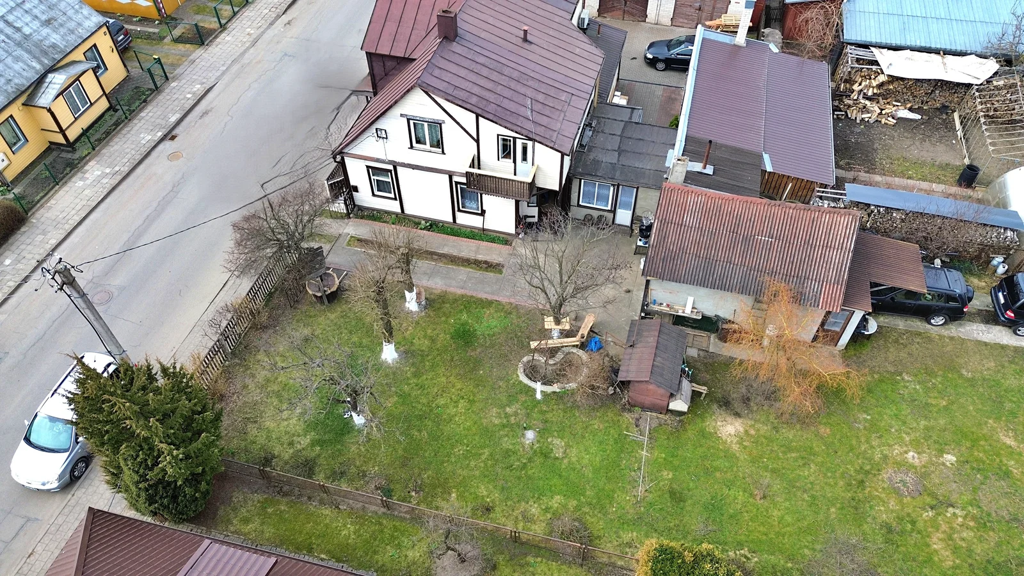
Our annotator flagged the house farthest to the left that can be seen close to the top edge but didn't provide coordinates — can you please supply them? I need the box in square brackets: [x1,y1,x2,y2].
[0,0,131,191]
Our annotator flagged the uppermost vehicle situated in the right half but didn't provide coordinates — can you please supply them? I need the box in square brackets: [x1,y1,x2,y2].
[643,33,691,71]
